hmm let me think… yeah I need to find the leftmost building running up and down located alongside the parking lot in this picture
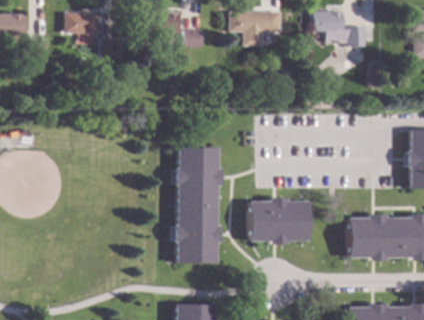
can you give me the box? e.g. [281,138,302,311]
[175,148,224,262]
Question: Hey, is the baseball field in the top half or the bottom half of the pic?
bottom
